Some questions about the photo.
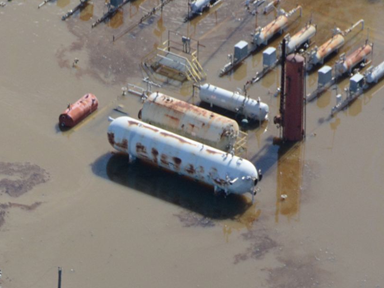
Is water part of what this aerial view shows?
Yes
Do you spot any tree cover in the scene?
No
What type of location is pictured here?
industrial area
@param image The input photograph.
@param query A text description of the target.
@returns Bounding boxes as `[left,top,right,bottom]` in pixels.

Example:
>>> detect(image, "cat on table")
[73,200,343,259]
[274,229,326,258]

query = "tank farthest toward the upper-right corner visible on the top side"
[194,83,270,126]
